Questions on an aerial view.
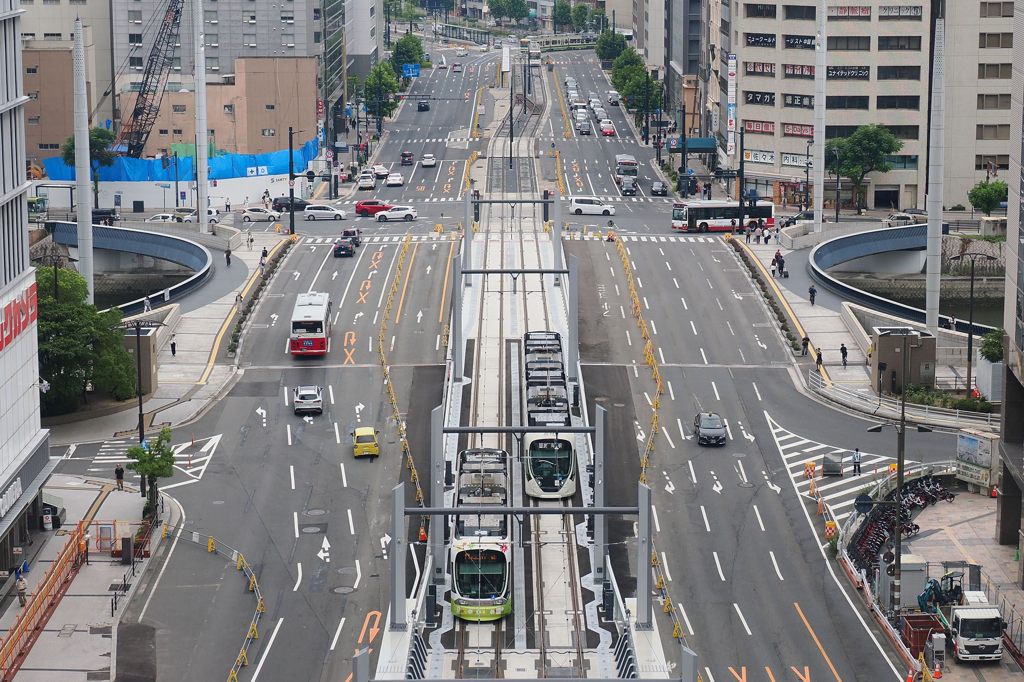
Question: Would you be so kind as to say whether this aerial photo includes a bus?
Yes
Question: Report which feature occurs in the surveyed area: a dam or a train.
train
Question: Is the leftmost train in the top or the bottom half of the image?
bottom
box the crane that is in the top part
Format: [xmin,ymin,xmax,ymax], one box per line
[85,0,194,160]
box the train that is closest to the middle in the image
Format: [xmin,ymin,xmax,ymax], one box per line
[522,332,575,496]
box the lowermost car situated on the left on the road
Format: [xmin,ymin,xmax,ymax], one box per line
[353,426,385,459]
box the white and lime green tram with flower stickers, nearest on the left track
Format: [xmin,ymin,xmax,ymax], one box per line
[450,453,511,618]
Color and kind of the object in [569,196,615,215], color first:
white car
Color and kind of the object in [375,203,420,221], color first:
white car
